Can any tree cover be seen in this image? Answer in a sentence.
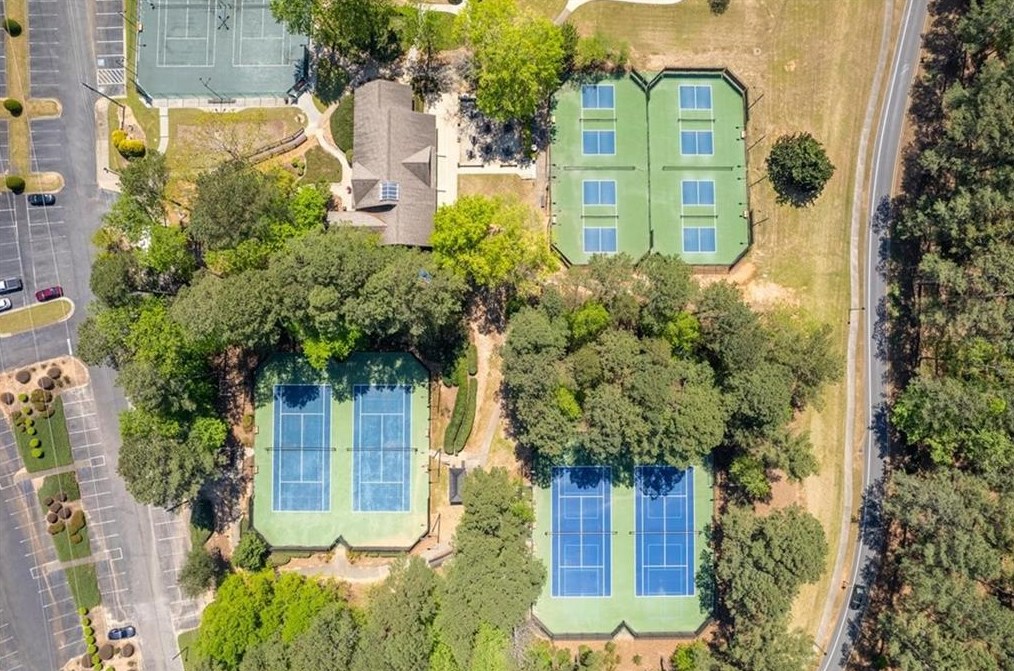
Yes, tree cover shows up in the scene.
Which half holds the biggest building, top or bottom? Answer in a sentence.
It is in the top half that the biggest building appears.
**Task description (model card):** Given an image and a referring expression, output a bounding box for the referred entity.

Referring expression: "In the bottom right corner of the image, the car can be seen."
[852,586,868,612]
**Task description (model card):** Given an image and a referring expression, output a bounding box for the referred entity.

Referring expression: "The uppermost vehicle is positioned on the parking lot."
[26,192,53,205]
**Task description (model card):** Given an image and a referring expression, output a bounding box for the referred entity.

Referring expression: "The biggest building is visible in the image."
[326,80,438,246]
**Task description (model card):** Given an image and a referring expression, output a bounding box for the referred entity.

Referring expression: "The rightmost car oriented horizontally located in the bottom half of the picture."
[106,626,134,640]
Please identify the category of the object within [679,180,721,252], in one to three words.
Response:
sports court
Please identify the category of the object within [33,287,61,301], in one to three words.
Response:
vehicle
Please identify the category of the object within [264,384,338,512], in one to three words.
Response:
tennis court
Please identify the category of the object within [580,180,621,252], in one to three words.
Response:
sports court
